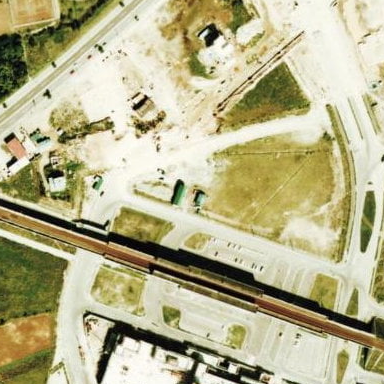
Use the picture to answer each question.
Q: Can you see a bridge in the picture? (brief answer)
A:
Yes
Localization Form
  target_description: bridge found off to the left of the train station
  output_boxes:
[0,205,111,258]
